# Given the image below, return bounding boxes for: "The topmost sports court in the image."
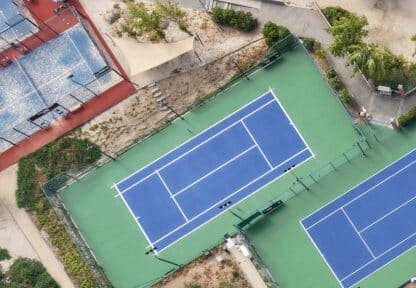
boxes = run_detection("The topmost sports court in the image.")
[0,0,40,50]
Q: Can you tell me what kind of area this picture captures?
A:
sports ground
